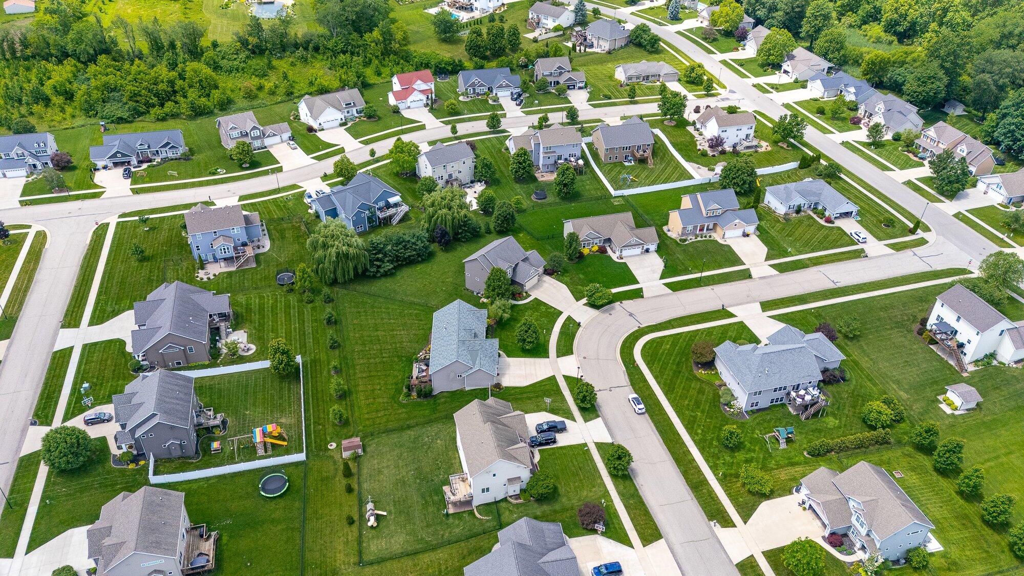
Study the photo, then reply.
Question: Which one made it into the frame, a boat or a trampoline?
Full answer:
I can see a trampoline in this picture.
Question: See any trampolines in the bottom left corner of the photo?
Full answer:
Yes, the scene does show a trampoline in the bottom left corner of the photo.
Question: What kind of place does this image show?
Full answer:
This image shows a residential area.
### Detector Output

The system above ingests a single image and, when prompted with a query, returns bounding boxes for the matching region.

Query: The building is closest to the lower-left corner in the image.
[86,489,221,576]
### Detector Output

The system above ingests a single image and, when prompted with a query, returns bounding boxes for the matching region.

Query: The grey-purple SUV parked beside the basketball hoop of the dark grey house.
[79,409,114,425]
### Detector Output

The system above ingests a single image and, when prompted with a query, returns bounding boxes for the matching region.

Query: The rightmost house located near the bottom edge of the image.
[798,463,936,560]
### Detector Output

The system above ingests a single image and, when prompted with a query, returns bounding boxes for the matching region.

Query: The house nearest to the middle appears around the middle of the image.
[463,238,547,298]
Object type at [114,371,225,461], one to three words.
house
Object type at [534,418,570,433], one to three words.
vehicle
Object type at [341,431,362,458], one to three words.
shed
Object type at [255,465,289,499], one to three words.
trampoline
